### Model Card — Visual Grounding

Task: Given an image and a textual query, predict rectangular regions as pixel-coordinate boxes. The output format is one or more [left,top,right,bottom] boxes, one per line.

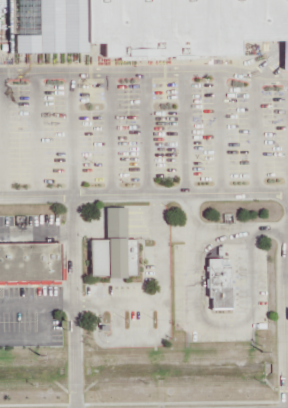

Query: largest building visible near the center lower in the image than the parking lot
[90,208,142,278]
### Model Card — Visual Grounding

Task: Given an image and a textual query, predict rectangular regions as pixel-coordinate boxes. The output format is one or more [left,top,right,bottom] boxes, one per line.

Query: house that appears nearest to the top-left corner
[16,0,42,34]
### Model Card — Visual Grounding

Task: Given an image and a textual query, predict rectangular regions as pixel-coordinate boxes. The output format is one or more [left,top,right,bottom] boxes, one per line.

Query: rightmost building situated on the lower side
[206,244,234,310]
